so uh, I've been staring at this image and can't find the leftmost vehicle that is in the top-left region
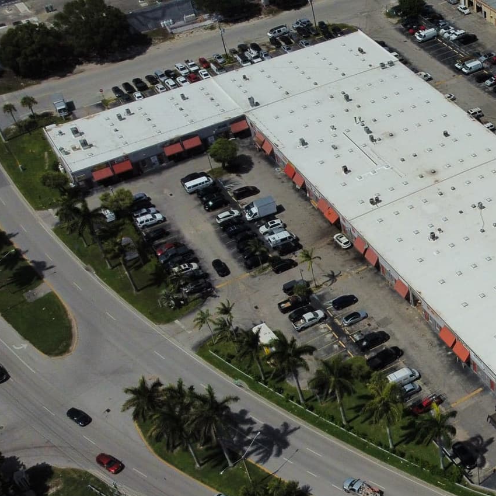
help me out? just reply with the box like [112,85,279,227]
[47,89,69,118]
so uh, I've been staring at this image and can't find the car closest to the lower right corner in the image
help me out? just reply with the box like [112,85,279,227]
[453,438,475,471]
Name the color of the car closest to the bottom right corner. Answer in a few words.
black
